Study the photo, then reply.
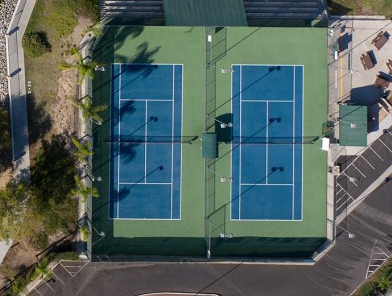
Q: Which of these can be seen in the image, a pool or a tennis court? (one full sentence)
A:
There is a tennis court in the scene.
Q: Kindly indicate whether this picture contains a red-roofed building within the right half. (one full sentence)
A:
No, I can find no red-roofed building within the right half.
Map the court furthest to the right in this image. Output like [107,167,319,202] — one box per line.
[206,26,326,256]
